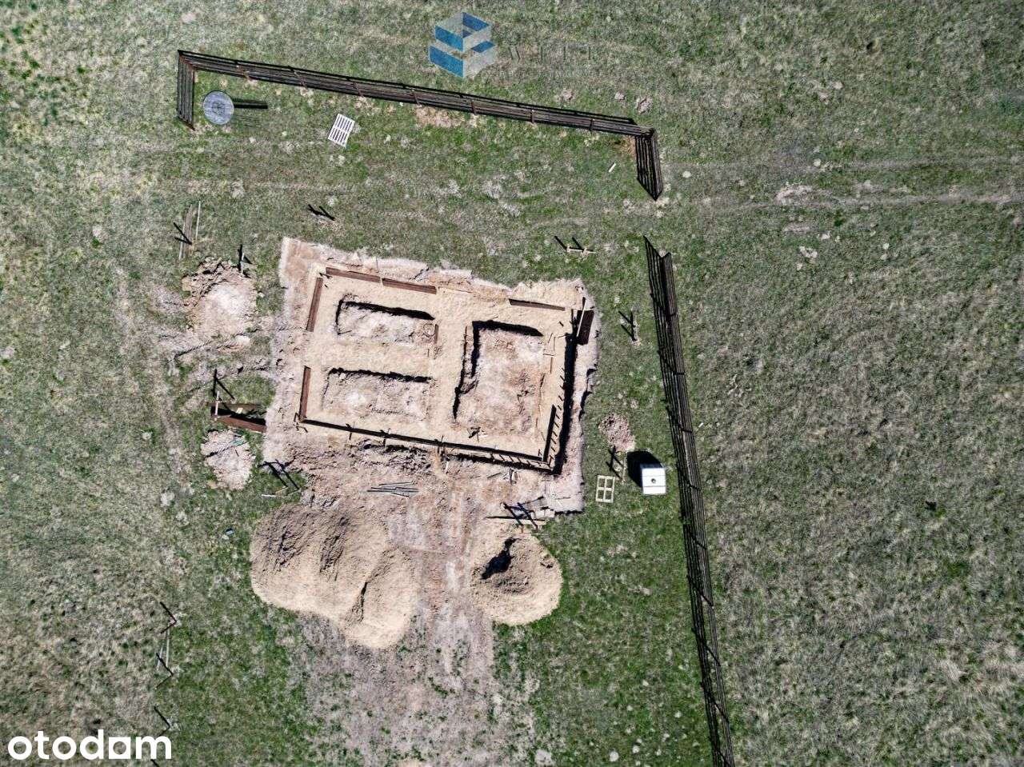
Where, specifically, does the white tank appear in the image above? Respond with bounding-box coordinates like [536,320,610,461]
[638,465,665,495]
